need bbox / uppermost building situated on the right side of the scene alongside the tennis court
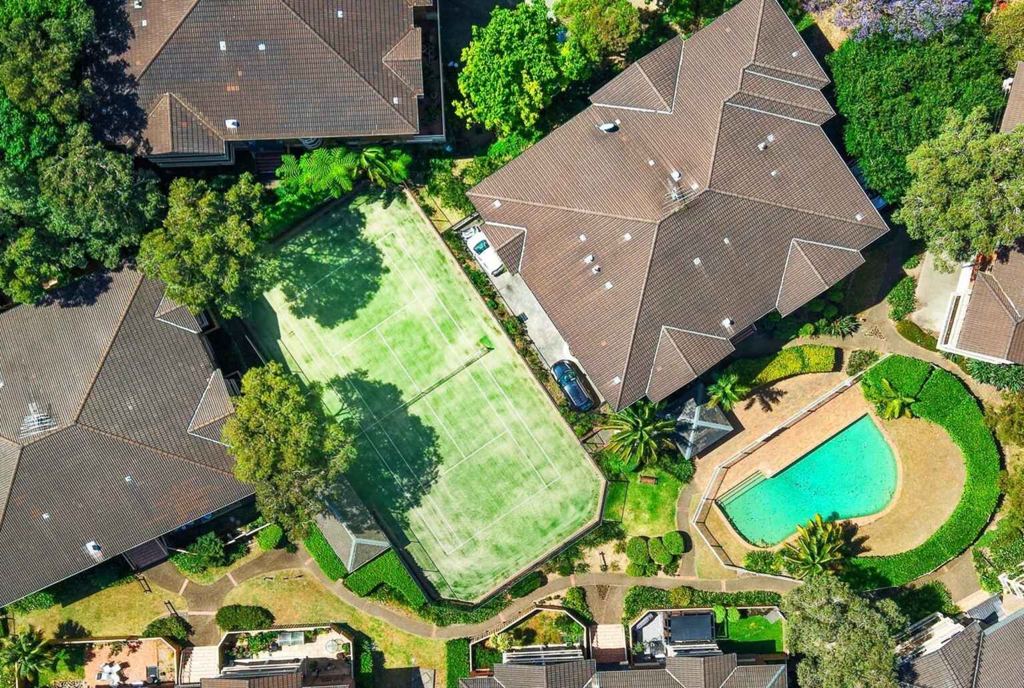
[467,0,891,413]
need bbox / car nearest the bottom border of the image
[552,357,595,416]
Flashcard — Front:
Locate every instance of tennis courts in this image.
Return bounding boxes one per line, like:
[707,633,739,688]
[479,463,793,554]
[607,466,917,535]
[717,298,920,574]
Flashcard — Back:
[242,183,605,604]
